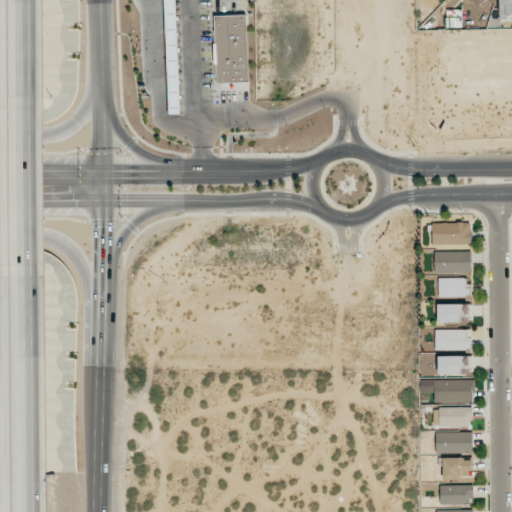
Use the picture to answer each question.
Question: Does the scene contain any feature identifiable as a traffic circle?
Yes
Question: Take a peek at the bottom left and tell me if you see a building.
No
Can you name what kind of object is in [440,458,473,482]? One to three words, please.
house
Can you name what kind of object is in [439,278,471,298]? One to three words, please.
house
